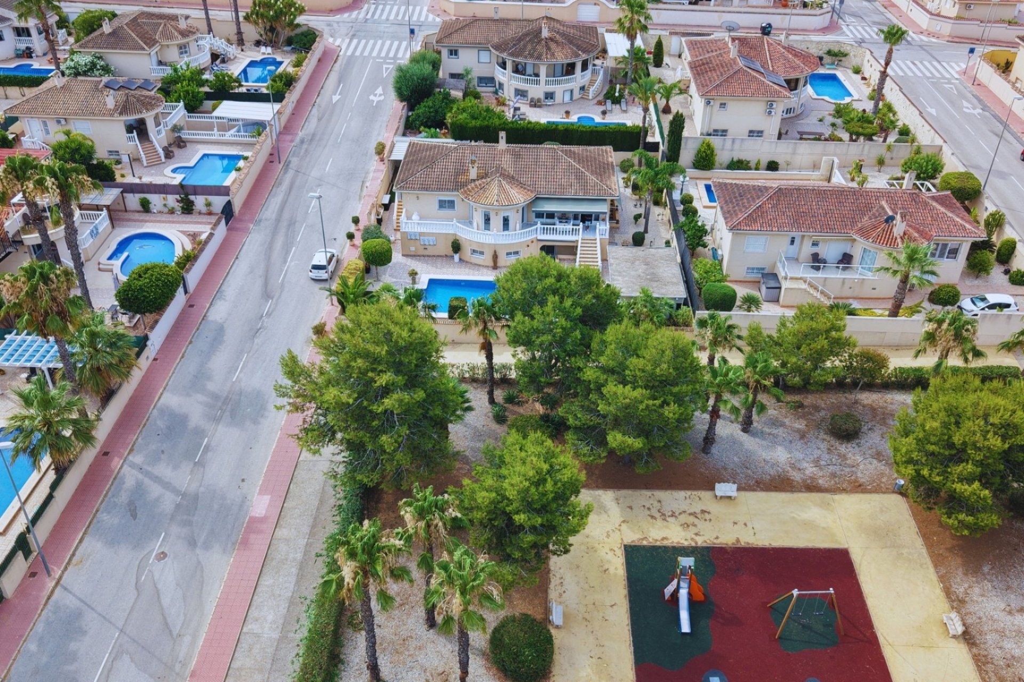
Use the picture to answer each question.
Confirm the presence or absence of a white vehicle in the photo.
Yes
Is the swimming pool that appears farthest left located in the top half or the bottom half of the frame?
bottom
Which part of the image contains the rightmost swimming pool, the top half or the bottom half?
top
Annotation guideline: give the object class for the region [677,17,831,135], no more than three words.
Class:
house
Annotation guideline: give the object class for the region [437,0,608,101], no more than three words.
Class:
house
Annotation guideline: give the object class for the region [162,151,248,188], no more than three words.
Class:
swimming pool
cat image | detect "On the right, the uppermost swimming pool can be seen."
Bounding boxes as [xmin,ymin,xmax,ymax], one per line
[808,70,862,101]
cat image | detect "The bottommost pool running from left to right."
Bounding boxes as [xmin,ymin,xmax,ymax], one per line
[412,274,531,321]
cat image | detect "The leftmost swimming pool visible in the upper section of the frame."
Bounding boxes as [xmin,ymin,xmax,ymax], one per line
[85,223,194,277]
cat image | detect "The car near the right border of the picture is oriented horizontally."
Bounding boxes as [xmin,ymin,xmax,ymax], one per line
[955,289,1022,316]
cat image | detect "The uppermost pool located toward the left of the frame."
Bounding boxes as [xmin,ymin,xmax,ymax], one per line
[238,55,287,84]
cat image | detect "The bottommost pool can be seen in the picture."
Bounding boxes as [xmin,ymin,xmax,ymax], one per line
[0,418,48,548]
